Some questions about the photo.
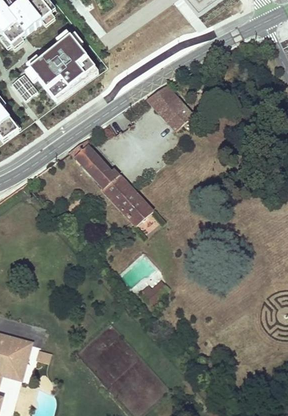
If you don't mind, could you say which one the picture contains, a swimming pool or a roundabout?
swimming pool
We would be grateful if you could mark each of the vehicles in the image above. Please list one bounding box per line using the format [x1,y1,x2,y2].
[160,128,170,136]
[113,122,120,132]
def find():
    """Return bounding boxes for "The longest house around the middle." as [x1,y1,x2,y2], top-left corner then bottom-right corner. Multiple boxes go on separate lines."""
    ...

[70,142,160,235]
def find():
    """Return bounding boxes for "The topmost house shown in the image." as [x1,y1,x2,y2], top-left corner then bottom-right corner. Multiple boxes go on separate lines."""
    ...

[0,0,57,52]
